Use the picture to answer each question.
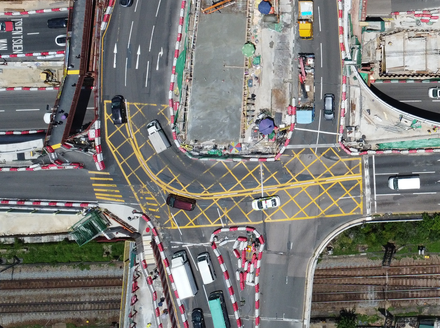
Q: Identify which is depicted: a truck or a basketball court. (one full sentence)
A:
Of the two, only a truck appears.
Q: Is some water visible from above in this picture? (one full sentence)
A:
No, no water is visible.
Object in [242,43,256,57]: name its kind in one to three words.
umbrella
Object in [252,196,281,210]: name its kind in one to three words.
car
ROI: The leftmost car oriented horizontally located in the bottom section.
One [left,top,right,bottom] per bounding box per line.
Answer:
[166,193,199,211]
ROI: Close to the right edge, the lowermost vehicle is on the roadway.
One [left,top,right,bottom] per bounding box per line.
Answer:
[388,177,420,190]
